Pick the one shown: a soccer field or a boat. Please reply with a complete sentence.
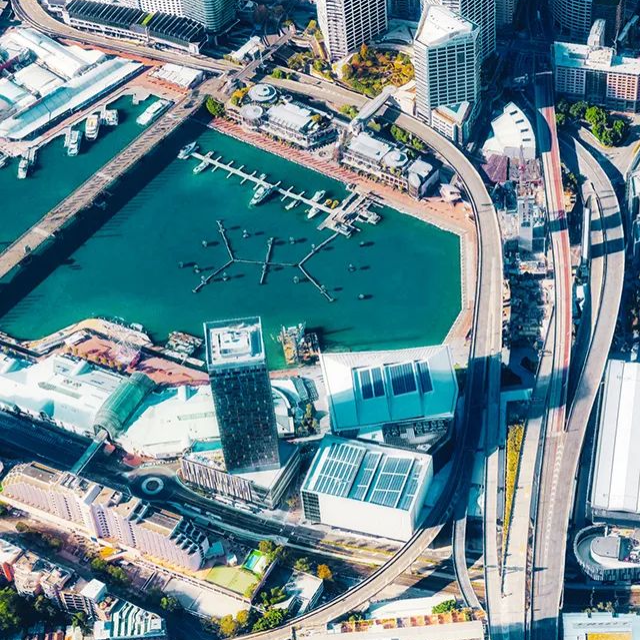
Looking from above, you can make out a boat.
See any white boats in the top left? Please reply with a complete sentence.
Yes, I can see a white boat in the top left.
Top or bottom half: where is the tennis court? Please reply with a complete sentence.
The tennis court is in the bottom half of the image.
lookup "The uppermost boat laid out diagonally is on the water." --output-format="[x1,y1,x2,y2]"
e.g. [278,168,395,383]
[138,96,164,126]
